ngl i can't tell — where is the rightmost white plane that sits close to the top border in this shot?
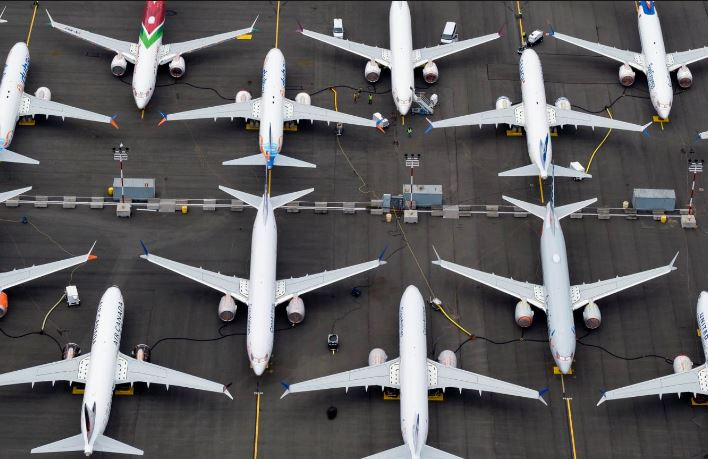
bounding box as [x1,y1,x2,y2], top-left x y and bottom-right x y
[546,0,708,118]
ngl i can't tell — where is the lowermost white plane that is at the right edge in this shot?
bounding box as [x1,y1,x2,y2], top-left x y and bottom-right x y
[597,289,708,410]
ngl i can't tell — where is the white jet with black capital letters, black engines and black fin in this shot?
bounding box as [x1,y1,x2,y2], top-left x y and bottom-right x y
[0,285,234,457]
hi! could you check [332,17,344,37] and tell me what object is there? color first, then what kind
white vehicle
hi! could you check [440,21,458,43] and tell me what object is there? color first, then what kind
white vehicle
